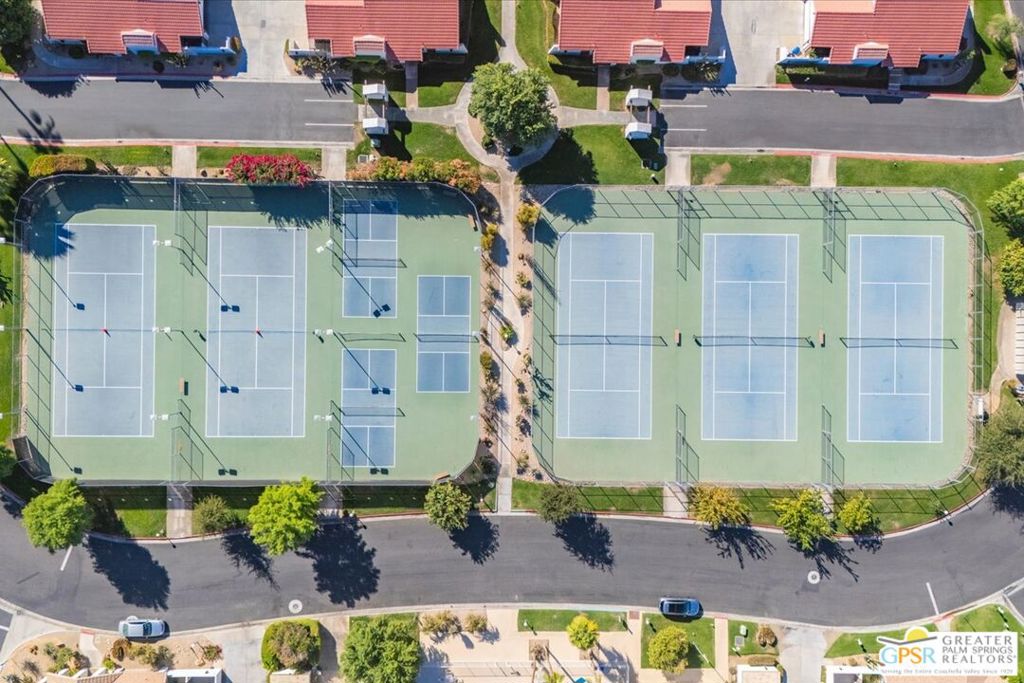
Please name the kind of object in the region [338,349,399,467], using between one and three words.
sports court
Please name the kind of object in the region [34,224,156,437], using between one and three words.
tennis court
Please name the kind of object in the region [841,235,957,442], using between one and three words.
tennis court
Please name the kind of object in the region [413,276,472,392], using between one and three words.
sports court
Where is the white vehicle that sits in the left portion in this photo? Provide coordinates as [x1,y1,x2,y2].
[119,618,161,639]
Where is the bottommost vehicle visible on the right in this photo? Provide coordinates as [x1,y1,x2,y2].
[660,597,702,618]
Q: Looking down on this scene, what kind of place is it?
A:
sports ground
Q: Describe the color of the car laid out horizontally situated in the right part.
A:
blue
